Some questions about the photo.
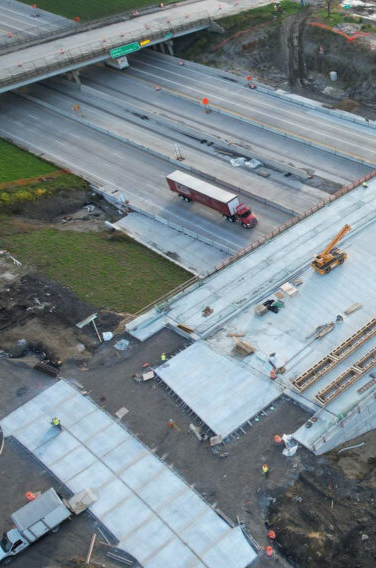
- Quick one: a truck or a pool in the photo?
truck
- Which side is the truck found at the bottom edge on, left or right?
left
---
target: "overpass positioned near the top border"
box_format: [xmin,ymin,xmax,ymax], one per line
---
[0,0,249,103]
